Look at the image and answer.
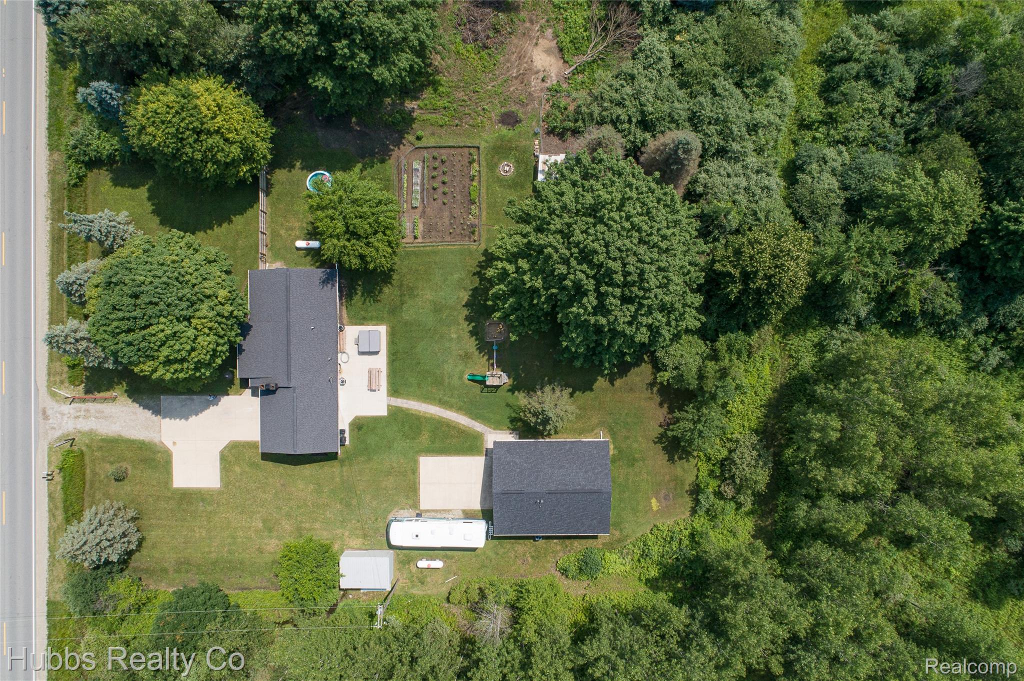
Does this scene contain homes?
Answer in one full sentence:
Yes, there's a home down there.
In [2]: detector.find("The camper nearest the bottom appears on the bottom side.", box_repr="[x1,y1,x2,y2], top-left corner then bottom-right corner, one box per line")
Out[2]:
[387,516,487,550]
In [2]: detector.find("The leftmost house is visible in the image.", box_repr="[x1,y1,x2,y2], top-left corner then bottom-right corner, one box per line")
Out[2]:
[238,266,345,455]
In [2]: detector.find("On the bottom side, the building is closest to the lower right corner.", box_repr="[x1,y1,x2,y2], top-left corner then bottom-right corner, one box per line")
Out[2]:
[493,429,613,536]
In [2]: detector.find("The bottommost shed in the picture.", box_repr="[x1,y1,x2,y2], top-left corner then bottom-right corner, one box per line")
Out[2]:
[340,551,393,591]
